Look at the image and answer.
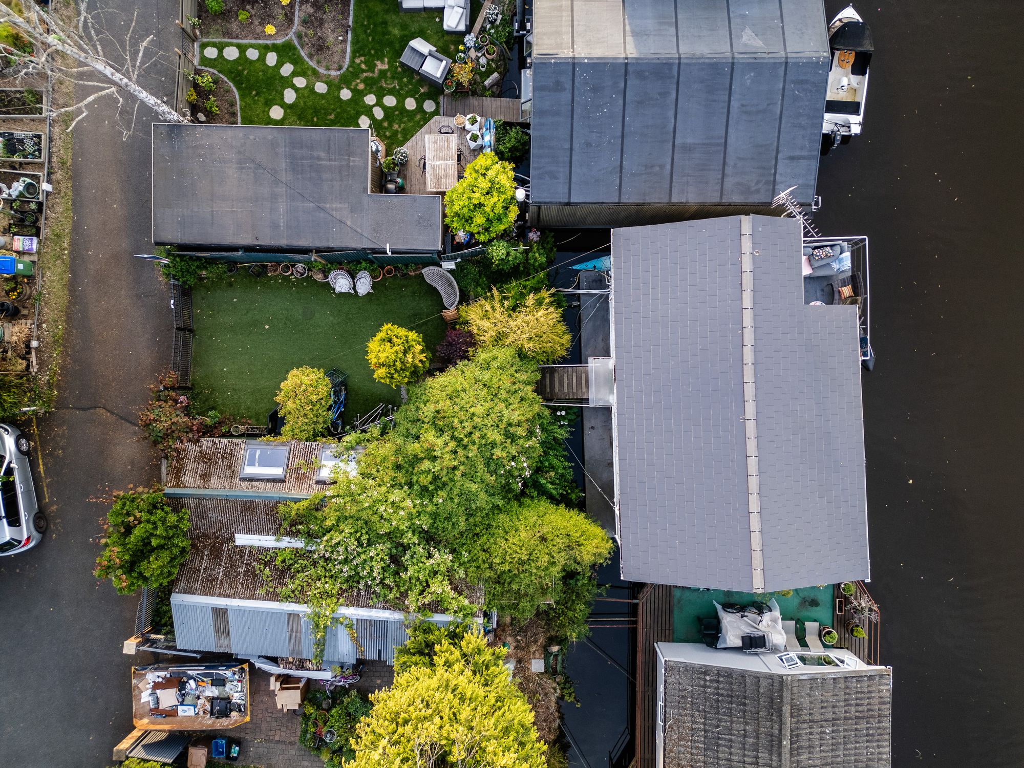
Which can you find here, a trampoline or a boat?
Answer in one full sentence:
Looking from above, you can make out a boat.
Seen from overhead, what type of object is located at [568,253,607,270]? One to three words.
boat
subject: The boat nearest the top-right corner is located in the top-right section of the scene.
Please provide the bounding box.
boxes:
[823,2,876,149]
